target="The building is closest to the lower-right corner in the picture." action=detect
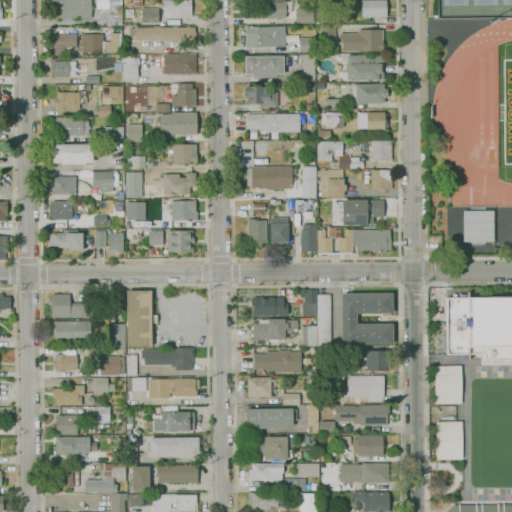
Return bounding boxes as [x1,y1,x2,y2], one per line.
[436,422,465,460]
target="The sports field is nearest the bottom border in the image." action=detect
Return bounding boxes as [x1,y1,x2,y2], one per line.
[472,378,512,487]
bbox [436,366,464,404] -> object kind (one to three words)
building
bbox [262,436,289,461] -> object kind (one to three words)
house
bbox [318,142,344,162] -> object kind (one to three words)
shed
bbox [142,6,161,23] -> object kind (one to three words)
shed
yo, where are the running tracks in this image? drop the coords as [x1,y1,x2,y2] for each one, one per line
[434,20,512,206]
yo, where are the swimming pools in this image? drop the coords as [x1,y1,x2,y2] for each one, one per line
[319,59,338,76]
